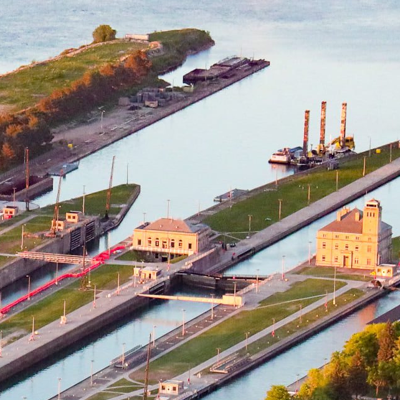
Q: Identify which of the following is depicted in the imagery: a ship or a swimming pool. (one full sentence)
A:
There is a ship in the scene.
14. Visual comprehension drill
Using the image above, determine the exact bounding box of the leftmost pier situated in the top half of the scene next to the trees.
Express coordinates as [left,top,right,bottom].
[0,28,270,200]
